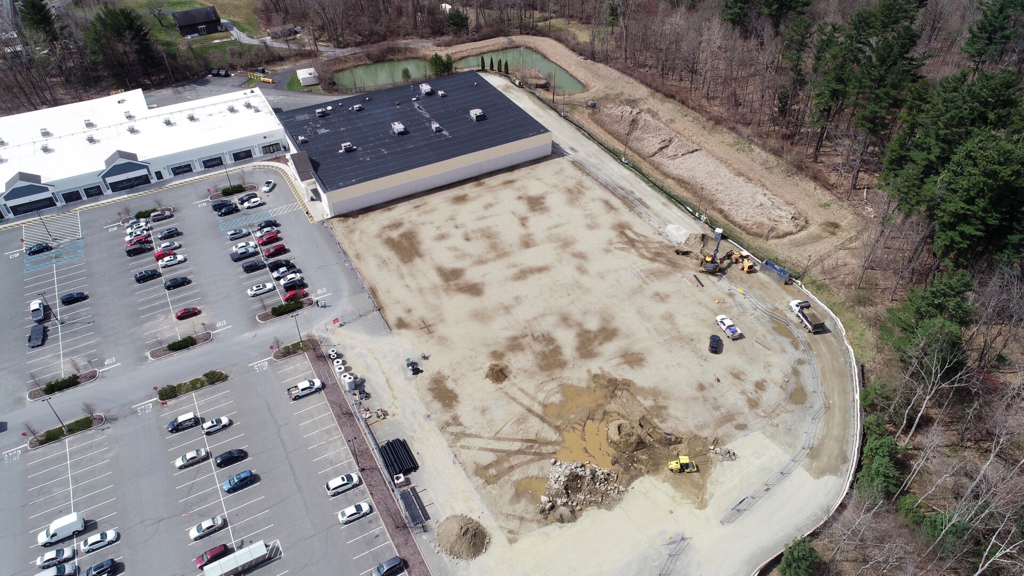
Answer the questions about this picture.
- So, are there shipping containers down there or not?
Yes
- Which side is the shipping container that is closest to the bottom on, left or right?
right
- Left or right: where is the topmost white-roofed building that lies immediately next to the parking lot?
left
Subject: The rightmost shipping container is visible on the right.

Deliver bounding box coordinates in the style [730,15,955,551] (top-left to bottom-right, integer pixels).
[758,259,791,285]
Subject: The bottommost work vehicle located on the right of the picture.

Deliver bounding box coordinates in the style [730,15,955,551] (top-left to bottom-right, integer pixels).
[663,453,700,475]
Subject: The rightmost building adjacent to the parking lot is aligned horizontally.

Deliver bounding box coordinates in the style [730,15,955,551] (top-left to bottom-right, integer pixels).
[279,68,552,217]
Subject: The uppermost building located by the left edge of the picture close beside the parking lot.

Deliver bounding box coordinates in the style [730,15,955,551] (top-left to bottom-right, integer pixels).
[0,86,290,219]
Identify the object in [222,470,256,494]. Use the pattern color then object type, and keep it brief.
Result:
blue car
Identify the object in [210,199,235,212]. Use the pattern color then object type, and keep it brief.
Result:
black vehicle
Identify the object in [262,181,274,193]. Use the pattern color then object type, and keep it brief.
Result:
white vehicle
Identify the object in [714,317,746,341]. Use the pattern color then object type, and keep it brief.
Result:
white truck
